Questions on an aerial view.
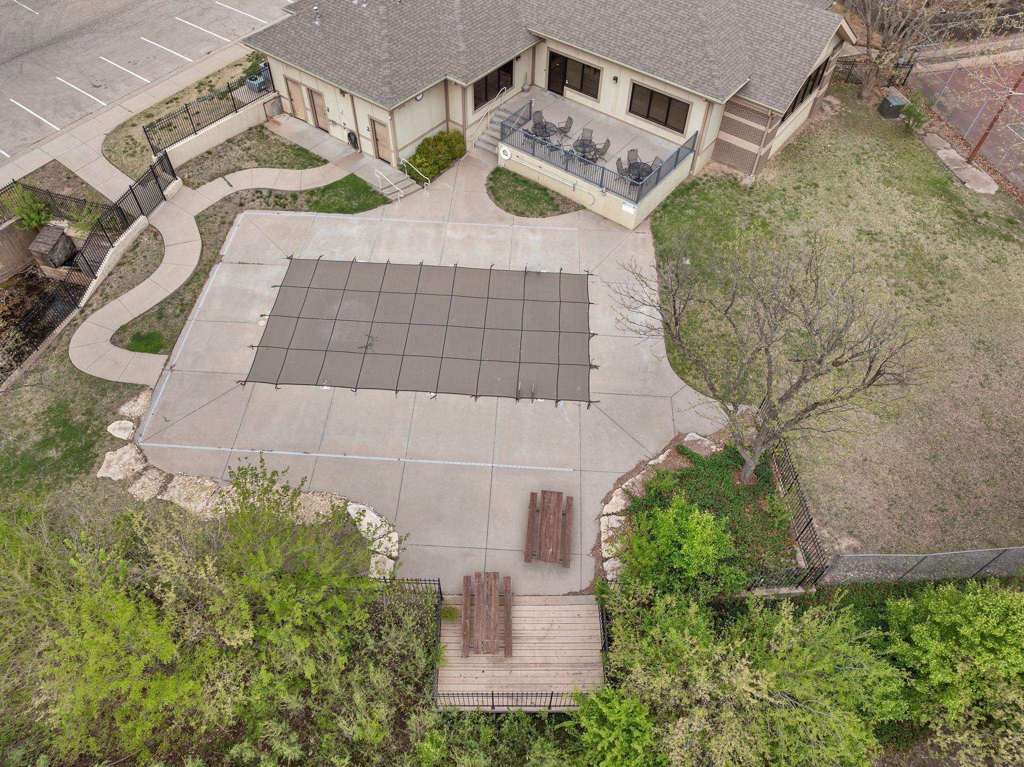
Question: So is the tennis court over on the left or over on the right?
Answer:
right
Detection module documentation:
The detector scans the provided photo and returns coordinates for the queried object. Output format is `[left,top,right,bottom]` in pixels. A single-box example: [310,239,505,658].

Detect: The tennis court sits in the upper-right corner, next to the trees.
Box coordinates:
[914,46,1024,207]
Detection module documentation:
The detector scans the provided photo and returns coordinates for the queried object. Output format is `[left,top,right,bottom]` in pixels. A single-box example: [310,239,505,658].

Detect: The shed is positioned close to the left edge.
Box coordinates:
[18,228,70,269]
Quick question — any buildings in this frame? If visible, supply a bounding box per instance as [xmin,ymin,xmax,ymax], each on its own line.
[247,0,875,179]
[18,228,70,269]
